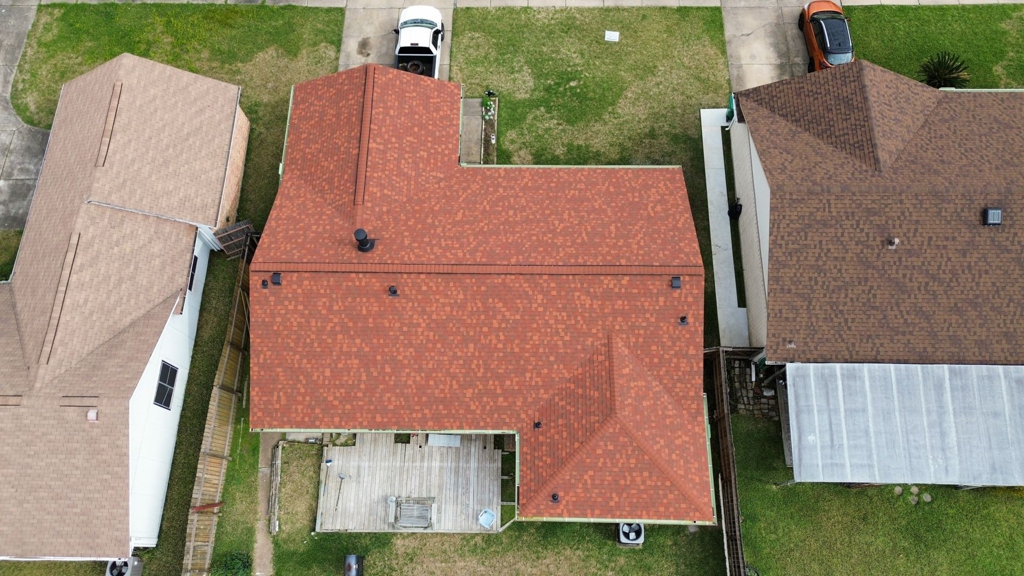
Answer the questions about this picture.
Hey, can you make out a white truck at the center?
No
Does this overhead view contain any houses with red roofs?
Yes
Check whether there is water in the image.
No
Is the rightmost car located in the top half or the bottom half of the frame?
top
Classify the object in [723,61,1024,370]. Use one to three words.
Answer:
house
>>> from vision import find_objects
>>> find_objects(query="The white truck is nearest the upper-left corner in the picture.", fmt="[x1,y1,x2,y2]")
[392,3,448,80]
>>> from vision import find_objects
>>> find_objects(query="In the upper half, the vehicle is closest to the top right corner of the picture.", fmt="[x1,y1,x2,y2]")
[798,1,858,73]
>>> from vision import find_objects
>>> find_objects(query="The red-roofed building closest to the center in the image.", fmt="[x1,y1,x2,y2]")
[249,64,716,524]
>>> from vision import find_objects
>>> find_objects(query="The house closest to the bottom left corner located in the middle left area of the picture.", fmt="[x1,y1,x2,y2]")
[0,56,249,561]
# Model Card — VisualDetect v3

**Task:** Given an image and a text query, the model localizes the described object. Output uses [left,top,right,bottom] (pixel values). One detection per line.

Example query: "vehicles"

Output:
[392,3,448,80]
[798,1,858,73]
